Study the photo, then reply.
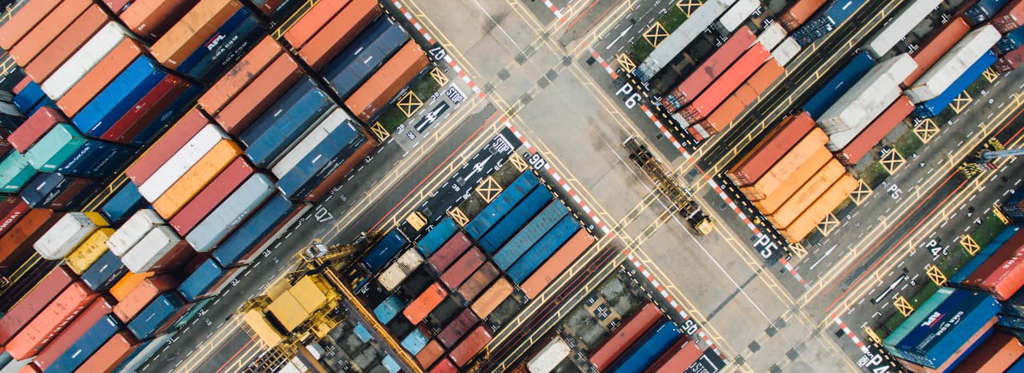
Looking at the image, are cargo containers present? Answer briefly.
Yes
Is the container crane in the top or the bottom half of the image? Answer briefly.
bottom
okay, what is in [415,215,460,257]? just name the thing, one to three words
shipping container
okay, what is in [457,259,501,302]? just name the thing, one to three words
shipping container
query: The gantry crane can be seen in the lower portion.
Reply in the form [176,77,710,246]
[237,227,484,373]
